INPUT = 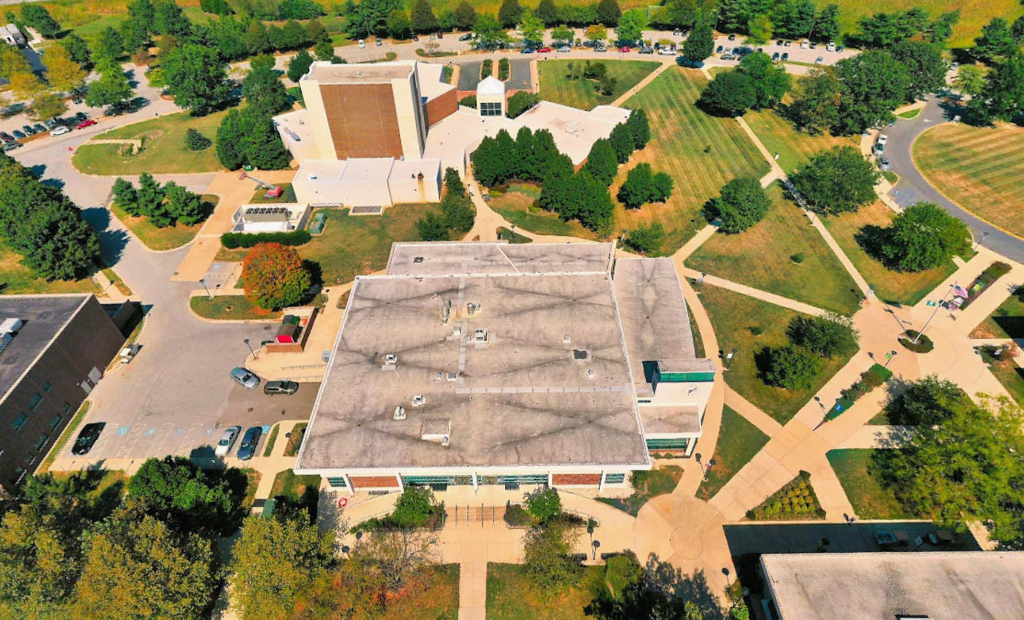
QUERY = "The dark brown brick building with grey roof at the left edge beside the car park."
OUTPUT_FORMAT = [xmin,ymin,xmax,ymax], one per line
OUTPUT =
[0,294,140,519]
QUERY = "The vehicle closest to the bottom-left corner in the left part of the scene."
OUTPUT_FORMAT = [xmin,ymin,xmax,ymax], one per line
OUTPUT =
[70,419,108,457]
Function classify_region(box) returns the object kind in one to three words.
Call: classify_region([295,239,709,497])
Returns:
building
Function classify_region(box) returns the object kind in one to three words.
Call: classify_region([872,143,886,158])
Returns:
vehicle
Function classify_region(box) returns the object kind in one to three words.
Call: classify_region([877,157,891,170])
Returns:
vehicle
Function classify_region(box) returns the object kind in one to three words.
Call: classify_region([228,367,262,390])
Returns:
car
